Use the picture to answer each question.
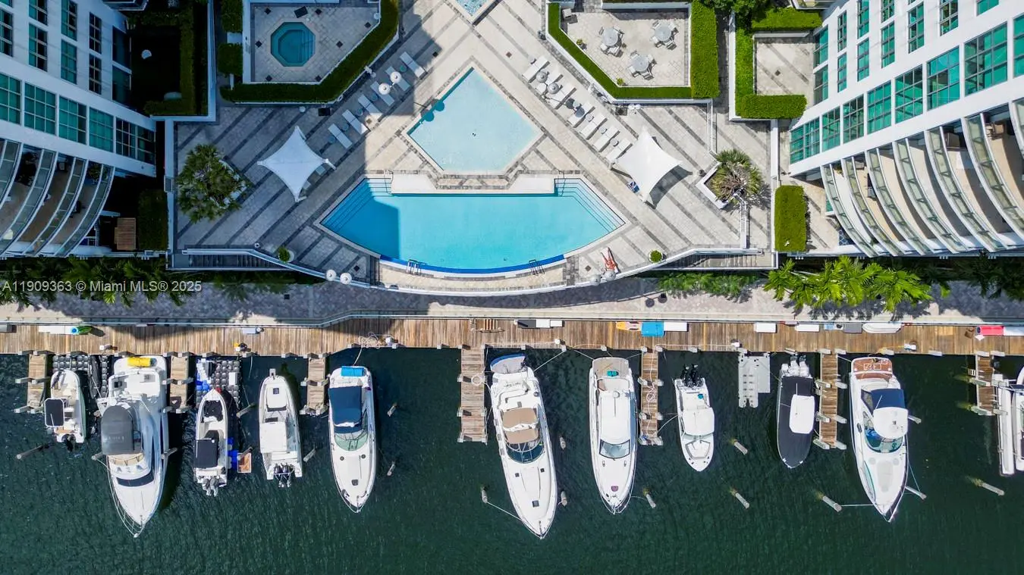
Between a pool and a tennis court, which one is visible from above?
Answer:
pool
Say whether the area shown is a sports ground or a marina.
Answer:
marina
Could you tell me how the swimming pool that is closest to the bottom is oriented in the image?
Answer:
from left to right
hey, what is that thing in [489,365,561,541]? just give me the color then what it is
white boat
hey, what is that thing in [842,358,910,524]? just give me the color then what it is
white boat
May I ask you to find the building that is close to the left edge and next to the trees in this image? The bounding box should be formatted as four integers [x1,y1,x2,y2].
[0,0,157,255]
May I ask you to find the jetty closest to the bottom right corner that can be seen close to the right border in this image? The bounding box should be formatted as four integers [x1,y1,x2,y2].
[959,355,1009,416]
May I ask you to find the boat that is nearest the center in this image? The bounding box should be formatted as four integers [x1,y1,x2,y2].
[488,353,527,373]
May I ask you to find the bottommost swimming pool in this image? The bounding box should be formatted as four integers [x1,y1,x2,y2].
[309,171,636,277]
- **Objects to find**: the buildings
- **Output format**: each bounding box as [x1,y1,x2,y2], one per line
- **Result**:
[0,0,157,255]
[788,0,1024,255]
